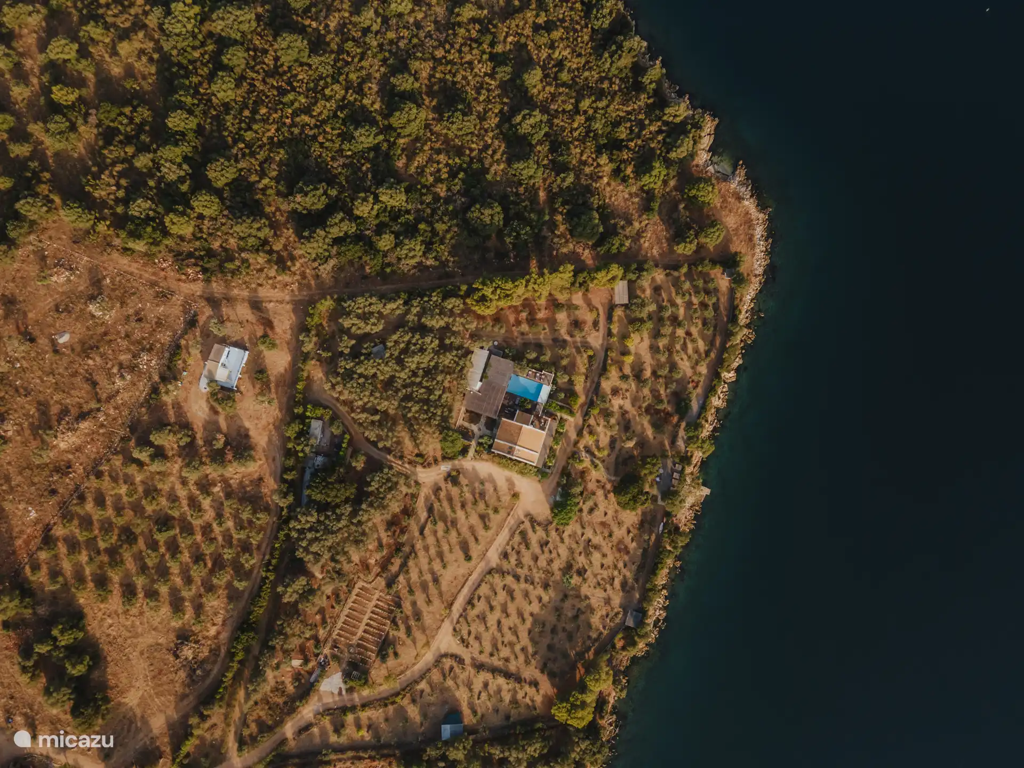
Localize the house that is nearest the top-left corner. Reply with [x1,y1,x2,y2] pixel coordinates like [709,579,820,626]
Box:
[200,344,252,392]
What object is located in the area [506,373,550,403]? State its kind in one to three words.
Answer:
swimming pool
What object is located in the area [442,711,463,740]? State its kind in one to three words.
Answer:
shed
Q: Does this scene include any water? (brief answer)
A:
Yes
